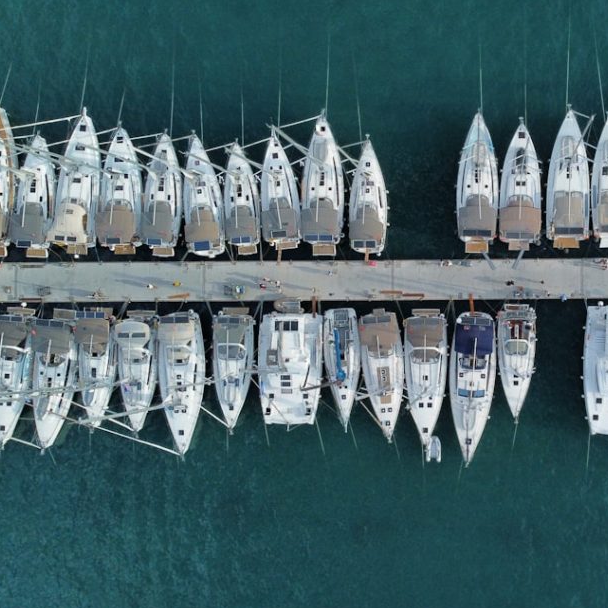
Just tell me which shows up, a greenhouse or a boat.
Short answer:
boat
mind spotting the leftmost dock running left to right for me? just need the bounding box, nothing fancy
[14,259,203,303]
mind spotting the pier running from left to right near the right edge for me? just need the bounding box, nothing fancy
[393,257,584,300]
